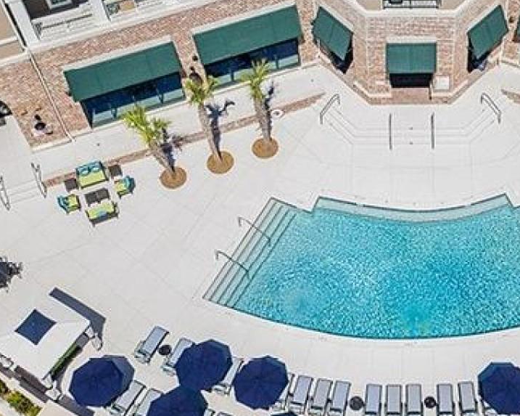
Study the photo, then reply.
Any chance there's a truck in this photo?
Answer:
No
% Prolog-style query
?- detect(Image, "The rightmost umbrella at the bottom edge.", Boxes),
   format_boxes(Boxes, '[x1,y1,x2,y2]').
[477,365,520,415]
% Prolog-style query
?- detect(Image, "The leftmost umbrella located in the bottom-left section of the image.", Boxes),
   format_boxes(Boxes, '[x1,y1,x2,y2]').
[74,355,135,411]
